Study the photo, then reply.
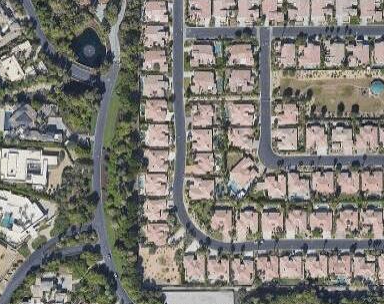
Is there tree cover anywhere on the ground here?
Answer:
Yes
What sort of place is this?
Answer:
residential area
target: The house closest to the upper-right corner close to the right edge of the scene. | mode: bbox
[361,0,383,22]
